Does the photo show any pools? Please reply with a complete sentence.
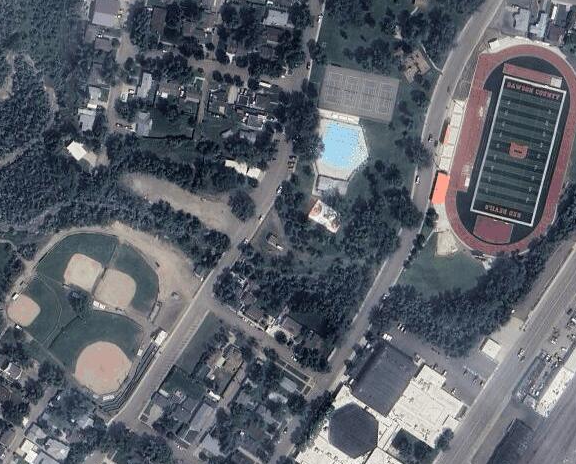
Yes, the frame does contain a pool.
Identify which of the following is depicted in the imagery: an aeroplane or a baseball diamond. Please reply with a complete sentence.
Looking from above, you can make out a baseball diamond.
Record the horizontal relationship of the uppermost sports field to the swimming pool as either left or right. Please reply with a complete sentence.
The uppermost sports field can be seen on the right of the swimming pool.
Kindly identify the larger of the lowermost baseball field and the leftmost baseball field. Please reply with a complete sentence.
Of the two, the lowermost baseball field is larger and the leftmost baseball field is the smaller one.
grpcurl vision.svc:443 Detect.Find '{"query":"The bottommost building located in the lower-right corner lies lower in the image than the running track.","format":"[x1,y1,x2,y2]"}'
[489,419,536,464]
